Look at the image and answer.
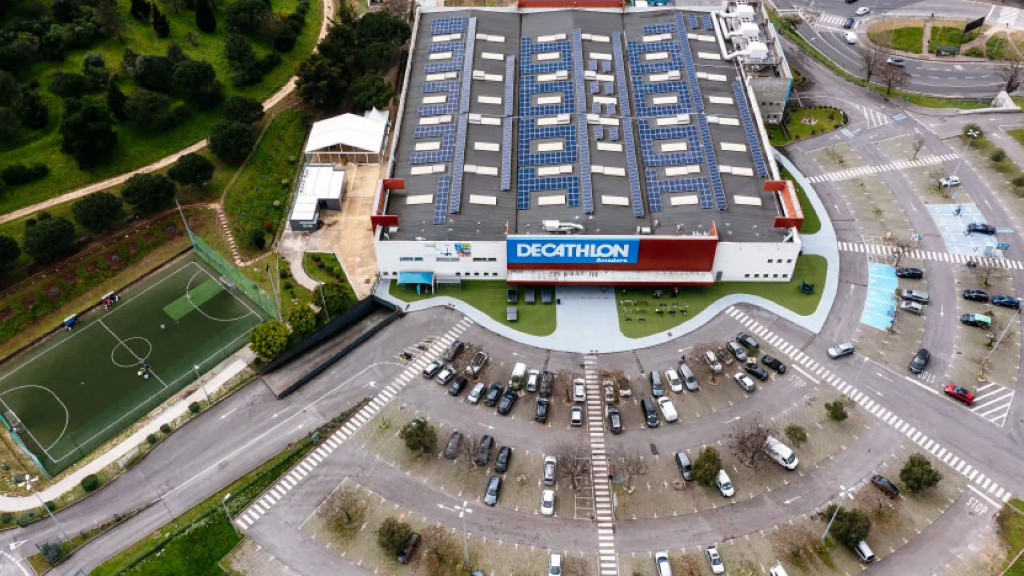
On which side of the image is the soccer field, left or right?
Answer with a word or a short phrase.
left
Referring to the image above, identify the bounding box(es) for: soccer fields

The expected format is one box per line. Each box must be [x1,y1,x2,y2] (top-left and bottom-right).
[0,253,279,477]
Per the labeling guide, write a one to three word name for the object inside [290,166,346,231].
building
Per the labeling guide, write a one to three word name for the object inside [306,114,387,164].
tent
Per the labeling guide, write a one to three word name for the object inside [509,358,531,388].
vehicle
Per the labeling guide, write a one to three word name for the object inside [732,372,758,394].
car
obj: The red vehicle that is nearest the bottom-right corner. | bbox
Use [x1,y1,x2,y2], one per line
[942,383,977,406]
